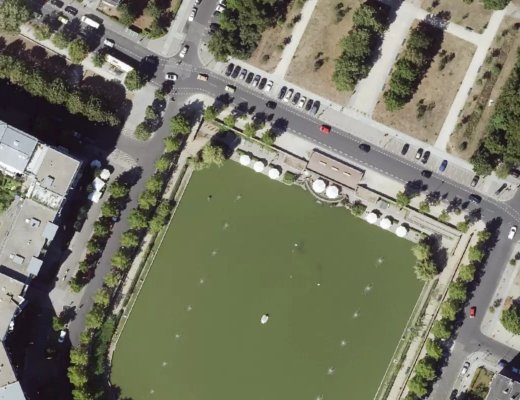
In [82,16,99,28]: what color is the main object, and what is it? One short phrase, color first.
white vehicle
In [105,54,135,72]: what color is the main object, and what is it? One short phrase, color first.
white vehicle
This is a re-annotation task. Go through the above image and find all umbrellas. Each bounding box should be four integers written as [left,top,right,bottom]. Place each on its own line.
[253,161,264,172]
[91,159,101,169]
[326,185,339,198]
[396,226,407,237]
[269,169,279,179]
[94,179,105,189]
[240,155,250,165]
[367,213,377,223]
[313,180,326,192]
[100,169,110,180]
